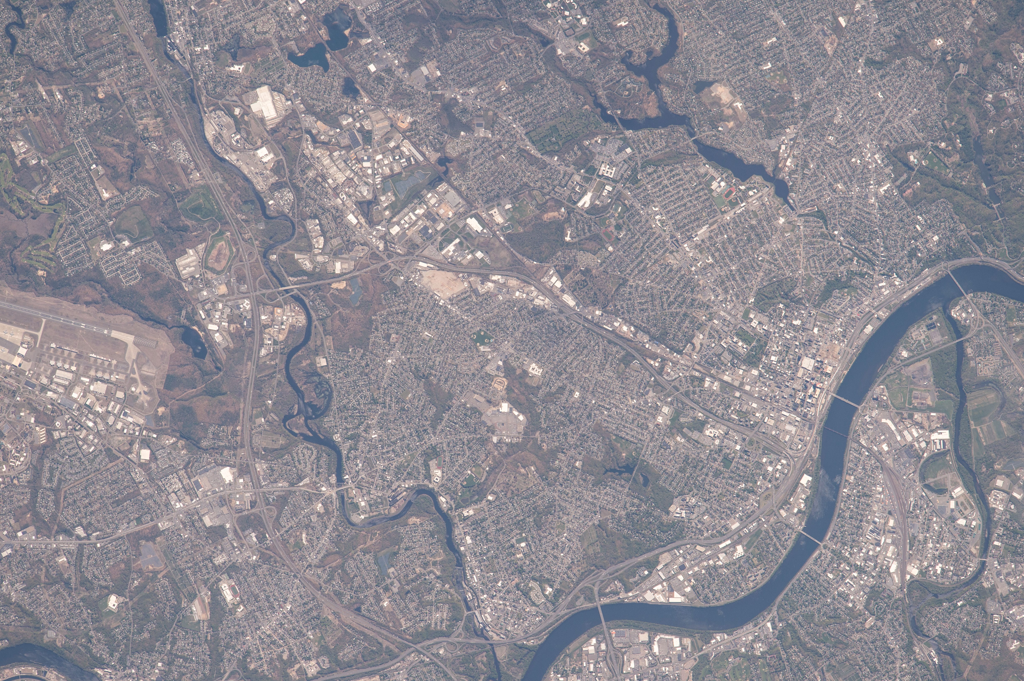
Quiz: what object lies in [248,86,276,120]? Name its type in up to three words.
shed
